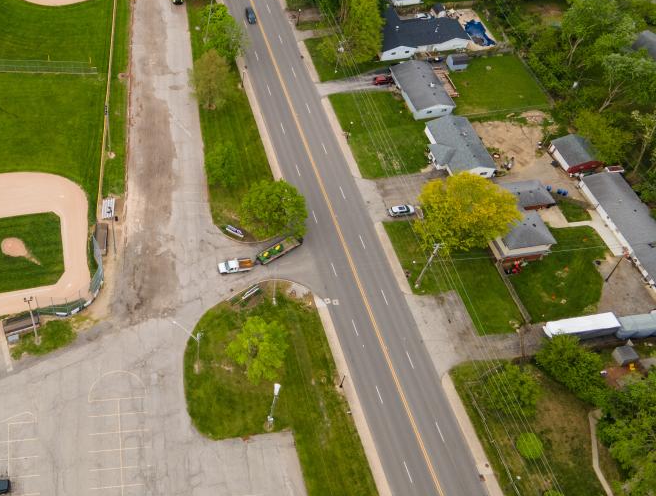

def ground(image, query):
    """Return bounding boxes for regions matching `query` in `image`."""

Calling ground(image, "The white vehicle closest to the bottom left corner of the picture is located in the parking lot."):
[219,260,250,274]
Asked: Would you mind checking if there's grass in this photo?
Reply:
Yes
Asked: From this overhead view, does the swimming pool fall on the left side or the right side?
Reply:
right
